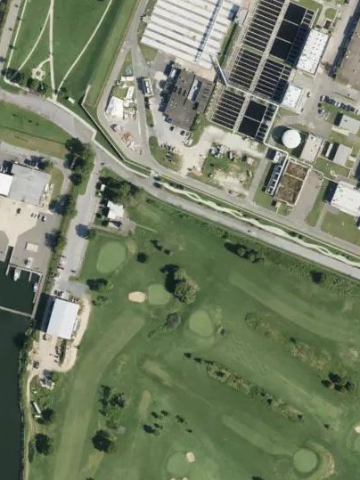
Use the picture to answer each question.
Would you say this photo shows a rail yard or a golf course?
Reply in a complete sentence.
It's a golf course.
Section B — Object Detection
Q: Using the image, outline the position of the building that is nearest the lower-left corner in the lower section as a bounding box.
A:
[47,298,80,339]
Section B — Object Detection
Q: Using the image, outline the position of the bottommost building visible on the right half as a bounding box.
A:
[332,183,360,216]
